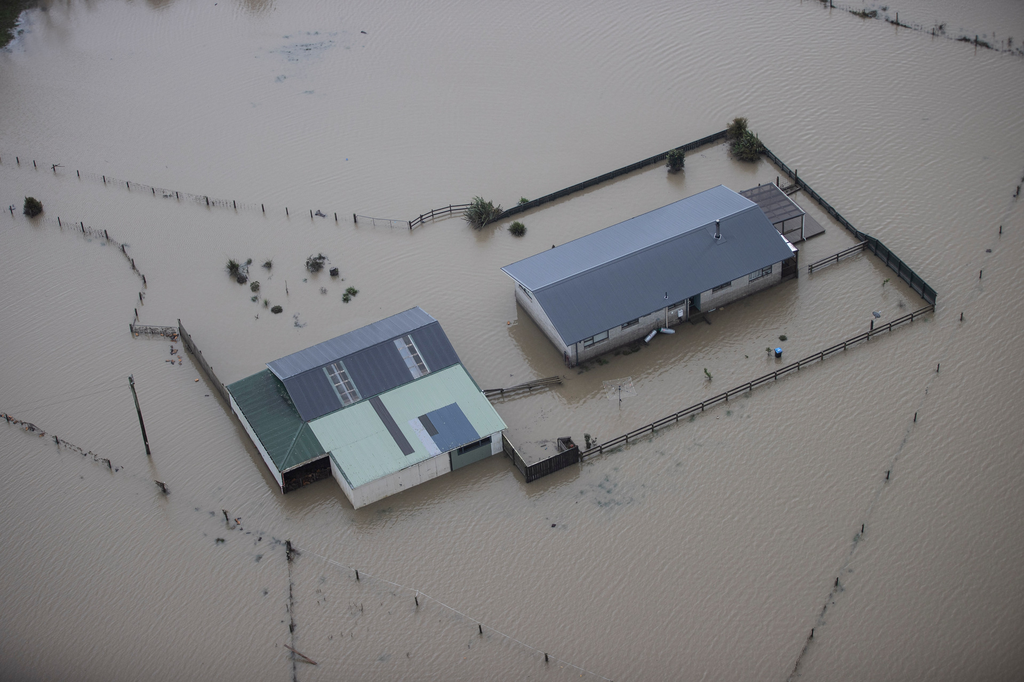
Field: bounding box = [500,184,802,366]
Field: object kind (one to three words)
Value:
house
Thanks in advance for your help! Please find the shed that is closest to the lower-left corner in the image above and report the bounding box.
[225,306,508,510]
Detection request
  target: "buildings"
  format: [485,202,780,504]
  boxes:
[500,184,802,366]
[225,306,508,510]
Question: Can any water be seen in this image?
Yes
